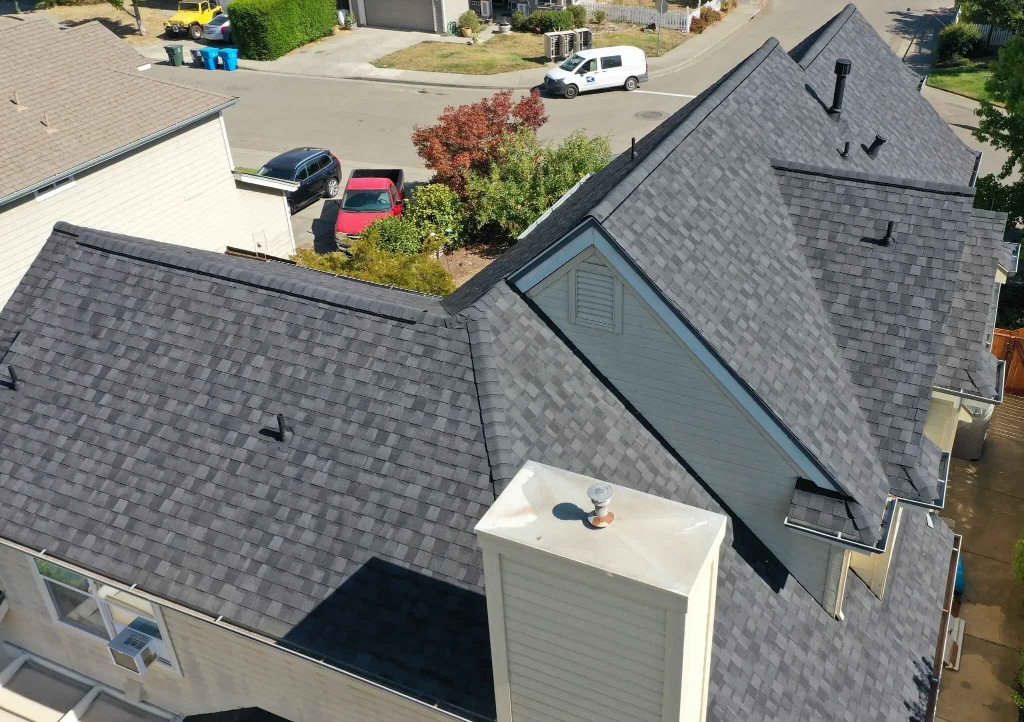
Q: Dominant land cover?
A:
buildings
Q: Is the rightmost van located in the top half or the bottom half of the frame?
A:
top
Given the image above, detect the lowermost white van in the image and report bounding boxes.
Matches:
[538,43,652,99]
